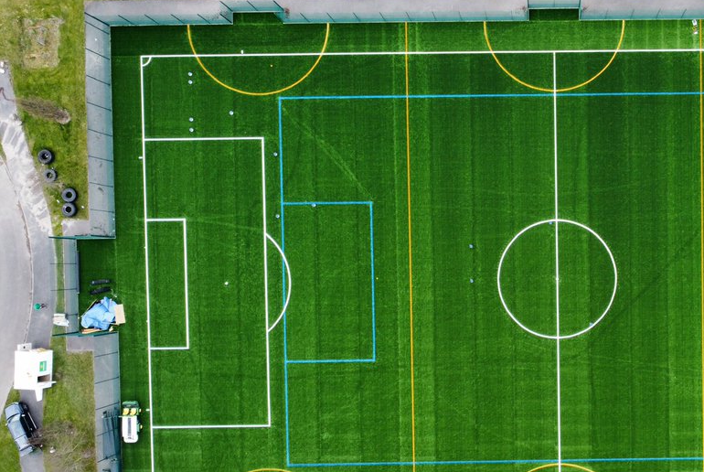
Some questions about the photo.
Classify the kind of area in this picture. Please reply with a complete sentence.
It's a sports ground.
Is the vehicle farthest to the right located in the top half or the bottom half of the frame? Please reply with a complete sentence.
It is in the bottom half that the vehicle farthest to the right appears.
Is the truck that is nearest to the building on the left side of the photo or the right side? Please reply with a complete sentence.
The truck that is nearest to the building appears in the left half of the scene.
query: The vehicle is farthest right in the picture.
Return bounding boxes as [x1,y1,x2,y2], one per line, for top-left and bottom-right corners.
[120,402,145,446]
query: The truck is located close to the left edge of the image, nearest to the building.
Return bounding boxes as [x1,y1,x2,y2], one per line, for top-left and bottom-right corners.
[0,398,41,456]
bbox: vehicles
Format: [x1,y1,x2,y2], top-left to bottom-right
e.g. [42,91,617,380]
[0,398,41,456]
[120,402,145,446]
